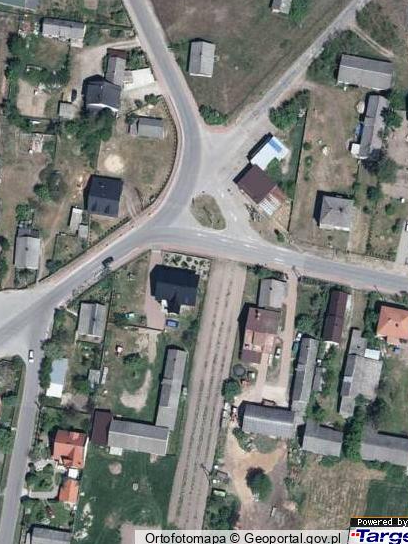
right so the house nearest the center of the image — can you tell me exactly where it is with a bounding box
[154,271,198,314]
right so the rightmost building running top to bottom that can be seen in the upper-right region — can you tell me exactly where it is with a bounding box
[360,94,389,157]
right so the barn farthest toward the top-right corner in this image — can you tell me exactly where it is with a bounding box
[337,54,394,90]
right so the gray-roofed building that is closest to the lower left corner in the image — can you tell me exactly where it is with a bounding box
[30,525,73,544]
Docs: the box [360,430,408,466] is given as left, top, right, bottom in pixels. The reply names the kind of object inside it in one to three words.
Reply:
barn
